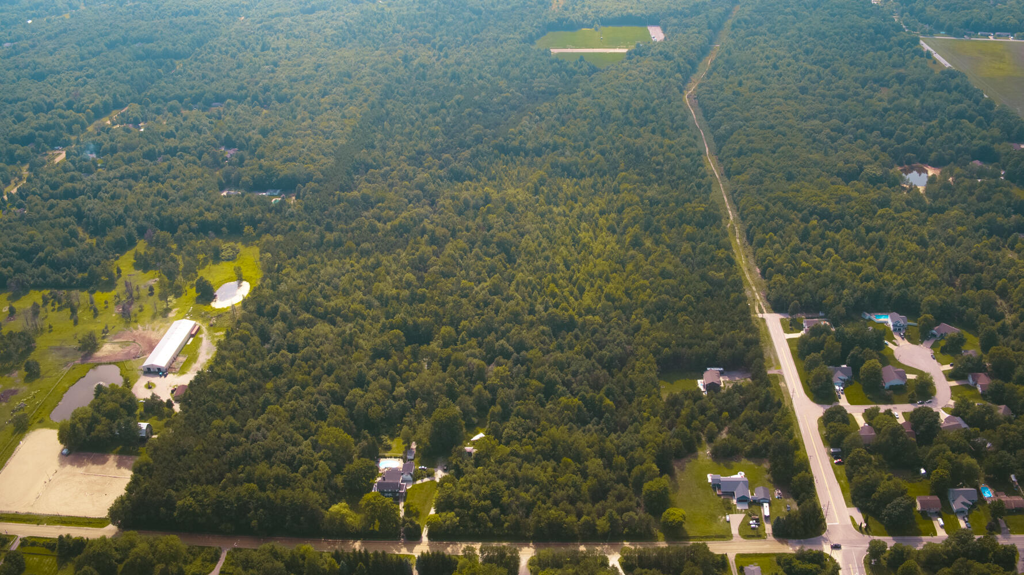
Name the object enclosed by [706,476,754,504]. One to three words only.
house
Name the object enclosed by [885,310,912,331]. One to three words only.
house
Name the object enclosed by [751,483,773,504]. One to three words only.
building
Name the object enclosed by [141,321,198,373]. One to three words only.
barn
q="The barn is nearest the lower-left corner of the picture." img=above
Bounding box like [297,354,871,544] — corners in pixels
[129,423,157,443]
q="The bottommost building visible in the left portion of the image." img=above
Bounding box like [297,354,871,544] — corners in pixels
[372,464,416,502]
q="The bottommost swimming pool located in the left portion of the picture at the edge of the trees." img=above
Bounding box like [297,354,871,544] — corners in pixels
[376,458,402,471]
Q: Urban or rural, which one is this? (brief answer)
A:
rural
